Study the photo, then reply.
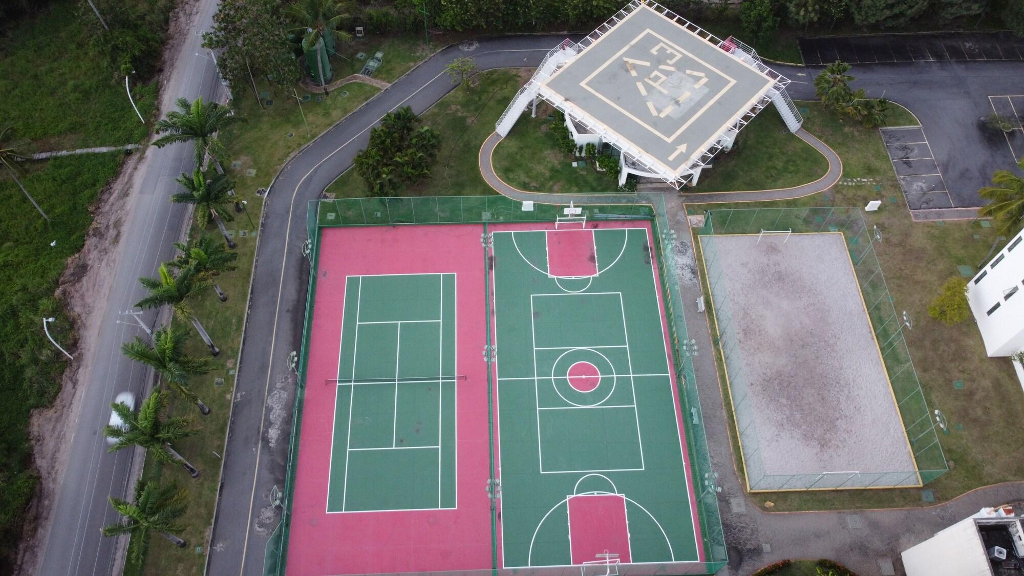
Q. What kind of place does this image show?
sports ground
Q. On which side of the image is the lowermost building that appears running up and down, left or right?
right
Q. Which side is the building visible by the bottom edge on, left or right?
right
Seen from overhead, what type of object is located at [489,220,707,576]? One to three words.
basketball court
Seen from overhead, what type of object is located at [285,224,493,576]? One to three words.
tennis court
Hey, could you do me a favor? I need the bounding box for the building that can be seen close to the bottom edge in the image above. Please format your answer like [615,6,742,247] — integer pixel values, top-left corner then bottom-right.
[900,501,1024,576]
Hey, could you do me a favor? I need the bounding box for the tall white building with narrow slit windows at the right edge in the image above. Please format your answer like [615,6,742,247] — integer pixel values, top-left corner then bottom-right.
[967,228,1024,356]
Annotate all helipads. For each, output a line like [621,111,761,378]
[495,0,810,192]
